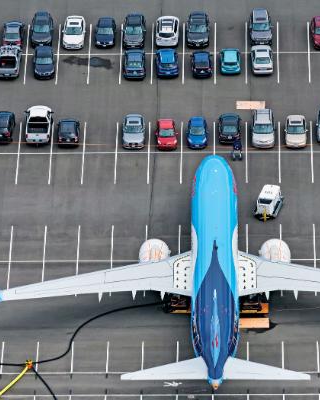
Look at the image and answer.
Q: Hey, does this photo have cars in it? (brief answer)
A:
Yes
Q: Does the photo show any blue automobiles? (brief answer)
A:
Yes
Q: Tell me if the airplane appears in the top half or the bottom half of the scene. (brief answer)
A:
bottom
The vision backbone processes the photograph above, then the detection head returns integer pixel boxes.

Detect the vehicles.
[121,113,148,149]
[154,116,180,151]
[185,12,211,47]
[121,47,148,78]
[61,15,87,49]
[154,15,180,46]
[122,11,147,47]
[190,50,215,77]
[30,9,55,46]
[0,42,23,77]
[248,8,274,45]
[26,105,54,145]
[283,112,309,148]
[155,47,180,76]
[310,15,320,49]
[185,114,210,149]
[216,110,243,146]
[219,47,243,74]
[250,107,278,148]
[2,16,27,45]
[0,111,16,144]
[56,117,82,148]
[32,45,57,79]
[93,15,118,47]
[249,43,274,74]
